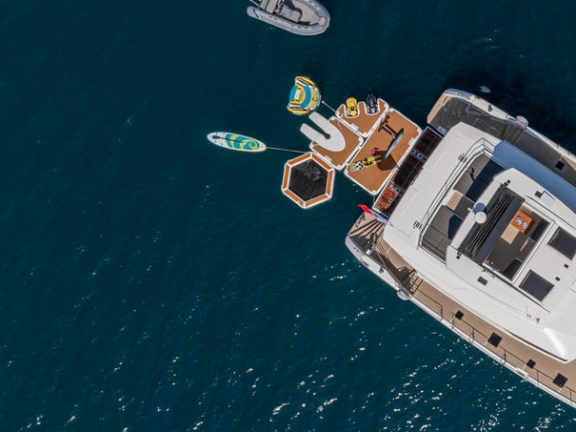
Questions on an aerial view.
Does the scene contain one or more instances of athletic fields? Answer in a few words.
No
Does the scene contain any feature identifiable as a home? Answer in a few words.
No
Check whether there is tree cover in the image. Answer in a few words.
No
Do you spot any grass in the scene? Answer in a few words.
No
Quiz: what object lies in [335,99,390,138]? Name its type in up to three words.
pier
